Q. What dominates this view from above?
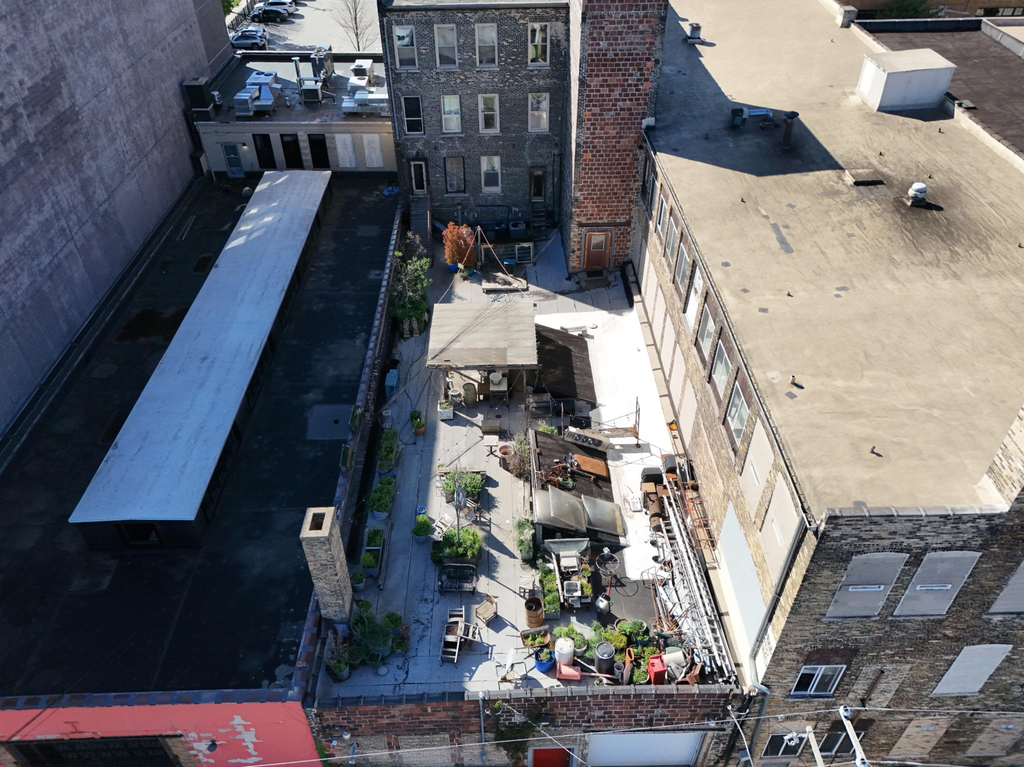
buildings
